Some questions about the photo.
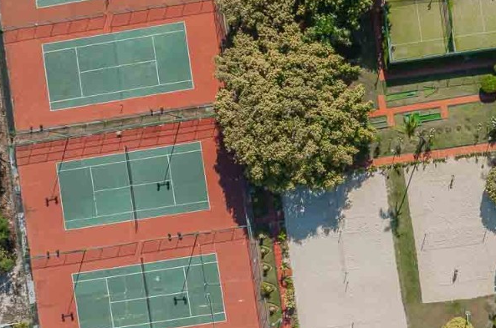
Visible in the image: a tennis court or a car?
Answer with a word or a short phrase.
tennis court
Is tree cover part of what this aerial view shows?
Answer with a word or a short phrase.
Yes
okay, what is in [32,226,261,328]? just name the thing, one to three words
tennis court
